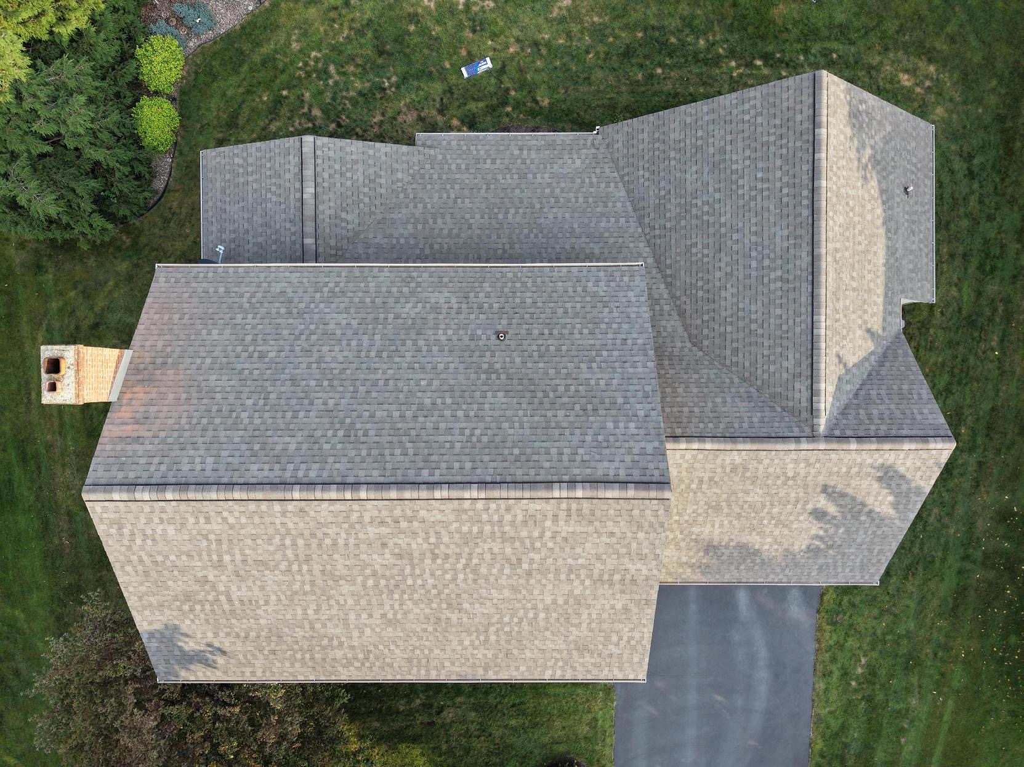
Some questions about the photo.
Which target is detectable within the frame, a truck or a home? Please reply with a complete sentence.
There is a home in the scene.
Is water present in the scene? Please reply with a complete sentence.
No, there's no water in this view.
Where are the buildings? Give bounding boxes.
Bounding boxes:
[43,71,956,683]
